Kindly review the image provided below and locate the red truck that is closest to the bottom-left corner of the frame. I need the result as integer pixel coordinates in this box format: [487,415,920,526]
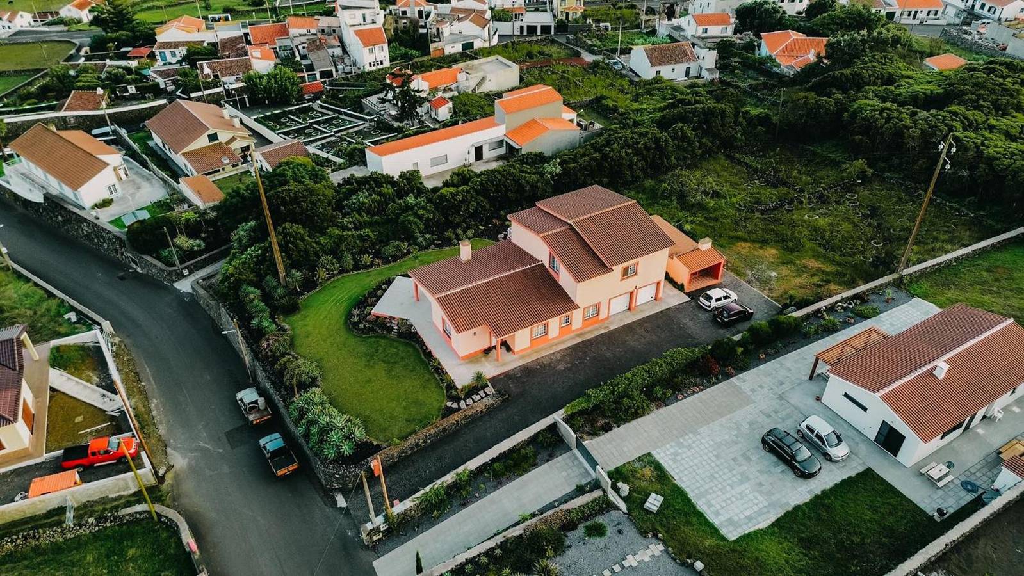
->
[53,437,140,477]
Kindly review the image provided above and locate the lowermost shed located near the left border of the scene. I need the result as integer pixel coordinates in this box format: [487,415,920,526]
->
[27,470,80,499]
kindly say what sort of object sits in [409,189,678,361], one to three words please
house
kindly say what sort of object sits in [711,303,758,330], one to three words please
car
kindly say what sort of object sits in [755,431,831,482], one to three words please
car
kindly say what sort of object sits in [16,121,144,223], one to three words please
house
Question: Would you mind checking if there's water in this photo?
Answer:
No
